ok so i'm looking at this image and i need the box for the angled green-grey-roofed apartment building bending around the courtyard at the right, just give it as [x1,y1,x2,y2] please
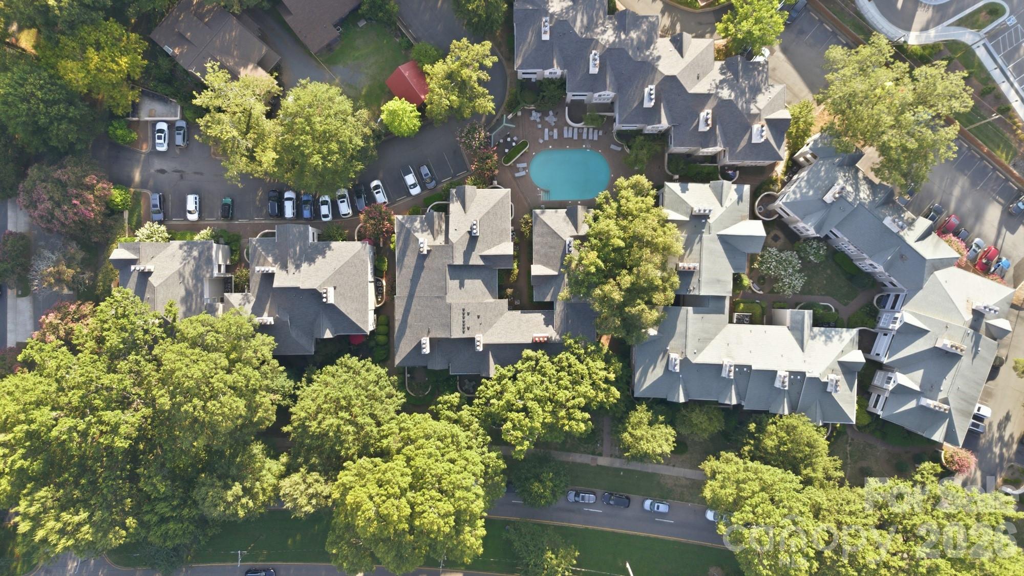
[768,136,1018,448]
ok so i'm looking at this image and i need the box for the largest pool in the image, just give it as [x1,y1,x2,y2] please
[529,148,610,200]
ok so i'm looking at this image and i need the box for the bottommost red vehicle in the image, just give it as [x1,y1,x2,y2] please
[973,244,1001,273]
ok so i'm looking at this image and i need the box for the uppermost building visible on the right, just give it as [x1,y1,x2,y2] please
[514,0,794,167]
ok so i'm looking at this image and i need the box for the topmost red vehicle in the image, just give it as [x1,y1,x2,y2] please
[936,212,961,240]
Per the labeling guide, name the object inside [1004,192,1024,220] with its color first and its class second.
gray car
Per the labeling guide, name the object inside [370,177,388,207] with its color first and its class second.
white car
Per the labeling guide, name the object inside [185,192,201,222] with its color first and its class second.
white car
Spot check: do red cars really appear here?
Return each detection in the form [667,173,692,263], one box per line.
[936,212,961,240]
[973,244,1001,273]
